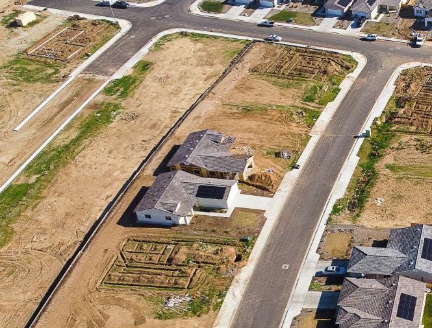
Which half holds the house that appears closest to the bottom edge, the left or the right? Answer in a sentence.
It is on the right.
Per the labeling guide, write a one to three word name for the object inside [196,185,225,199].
solar panel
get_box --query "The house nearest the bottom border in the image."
[337,275,427,328]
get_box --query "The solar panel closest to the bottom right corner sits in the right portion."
[397,293,417,320]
